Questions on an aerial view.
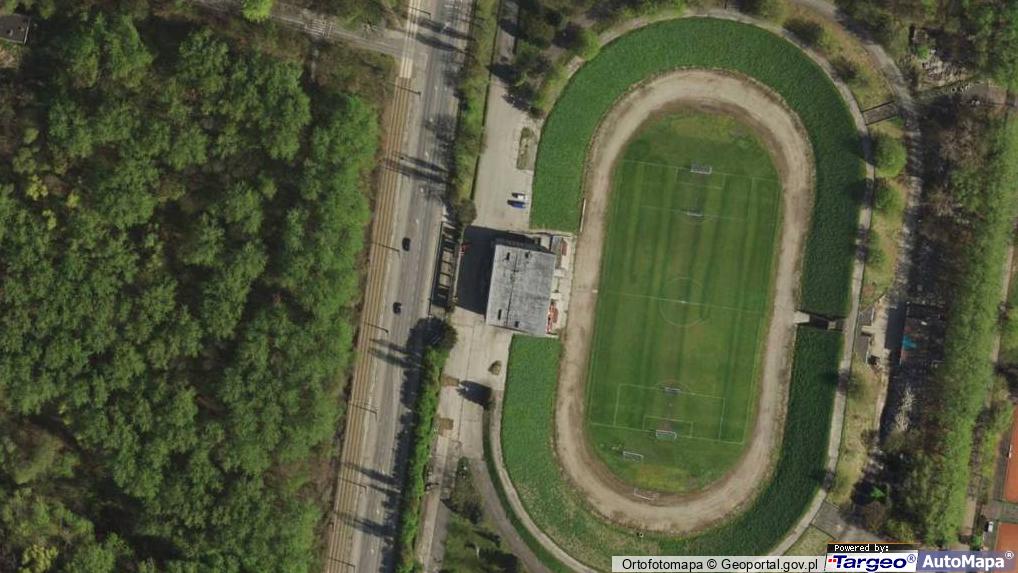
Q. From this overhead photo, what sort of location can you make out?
sports ground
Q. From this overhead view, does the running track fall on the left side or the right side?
right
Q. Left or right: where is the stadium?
right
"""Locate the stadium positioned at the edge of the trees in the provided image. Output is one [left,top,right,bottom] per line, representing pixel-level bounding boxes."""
[500,16,866,573]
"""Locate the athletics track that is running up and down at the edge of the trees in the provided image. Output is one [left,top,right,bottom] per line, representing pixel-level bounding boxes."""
[552,68,814,536]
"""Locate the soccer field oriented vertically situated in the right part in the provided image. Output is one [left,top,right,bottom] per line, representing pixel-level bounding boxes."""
[581,101,785,504]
